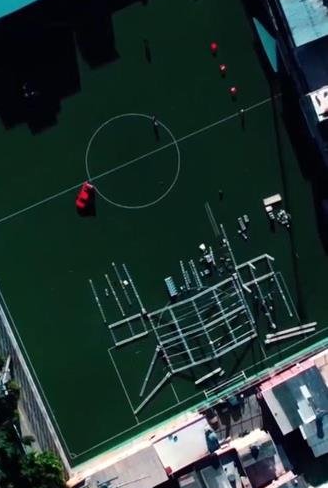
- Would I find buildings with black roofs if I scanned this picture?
Yes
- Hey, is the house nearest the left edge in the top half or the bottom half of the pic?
bottom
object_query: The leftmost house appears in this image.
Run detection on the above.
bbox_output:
[87,440,169,488]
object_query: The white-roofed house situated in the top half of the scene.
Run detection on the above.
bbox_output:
[298,88,328,124]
